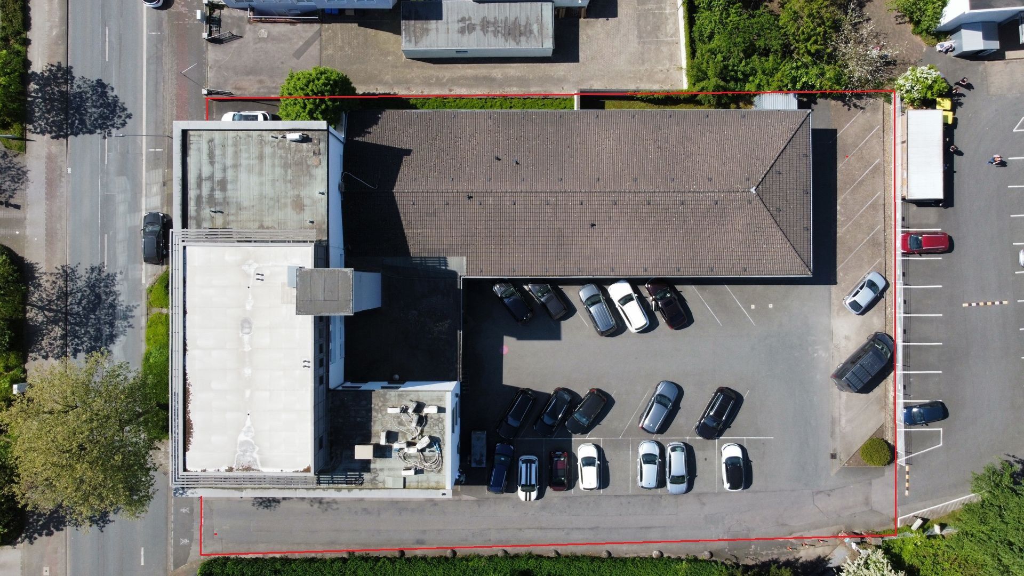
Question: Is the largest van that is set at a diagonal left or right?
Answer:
right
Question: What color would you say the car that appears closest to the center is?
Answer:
black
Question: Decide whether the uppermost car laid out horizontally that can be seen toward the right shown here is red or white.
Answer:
red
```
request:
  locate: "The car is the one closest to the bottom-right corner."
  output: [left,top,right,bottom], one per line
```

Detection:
[903,400,948,426]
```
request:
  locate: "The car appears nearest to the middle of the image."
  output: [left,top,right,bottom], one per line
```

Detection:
[495,281,531,325]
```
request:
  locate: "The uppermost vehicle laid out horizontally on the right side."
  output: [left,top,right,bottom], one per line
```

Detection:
[900,230,952,255]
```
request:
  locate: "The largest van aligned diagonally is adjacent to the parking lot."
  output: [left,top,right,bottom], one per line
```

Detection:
[836,334,894,393]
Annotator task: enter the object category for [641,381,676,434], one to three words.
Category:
car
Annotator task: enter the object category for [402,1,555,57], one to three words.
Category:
building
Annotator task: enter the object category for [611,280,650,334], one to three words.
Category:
car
